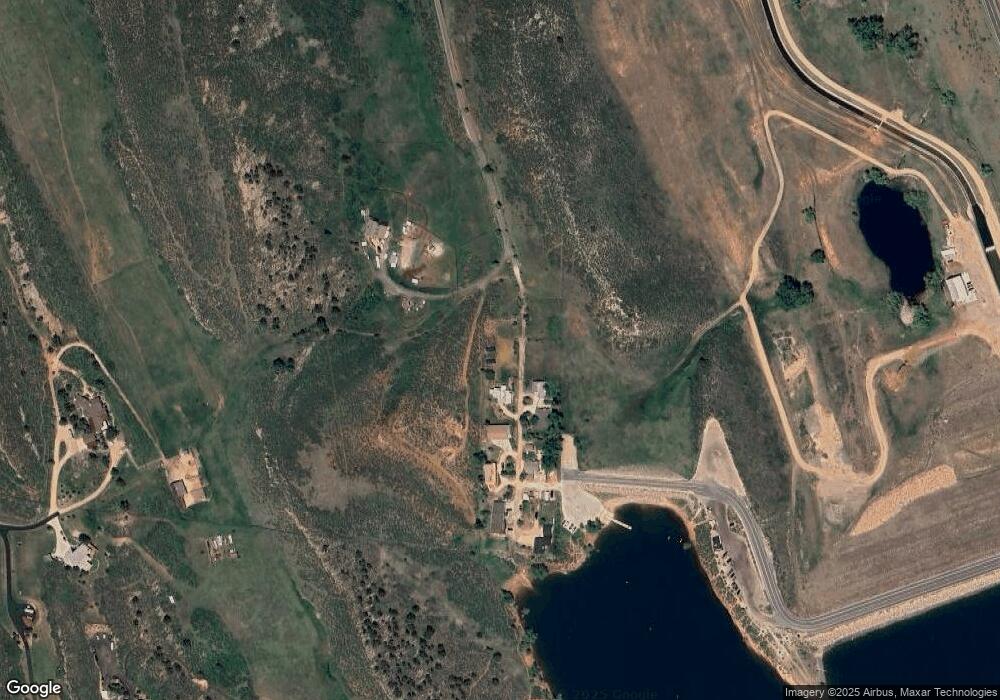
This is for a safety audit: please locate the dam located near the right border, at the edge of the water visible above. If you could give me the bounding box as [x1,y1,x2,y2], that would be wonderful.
[777,465,1000,664]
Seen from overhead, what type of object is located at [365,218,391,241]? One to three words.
house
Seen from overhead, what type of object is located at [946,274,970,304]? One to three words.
building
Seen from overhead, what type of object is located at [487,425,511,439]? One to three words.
barn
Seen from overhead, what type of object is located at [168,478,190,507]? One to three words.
barn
